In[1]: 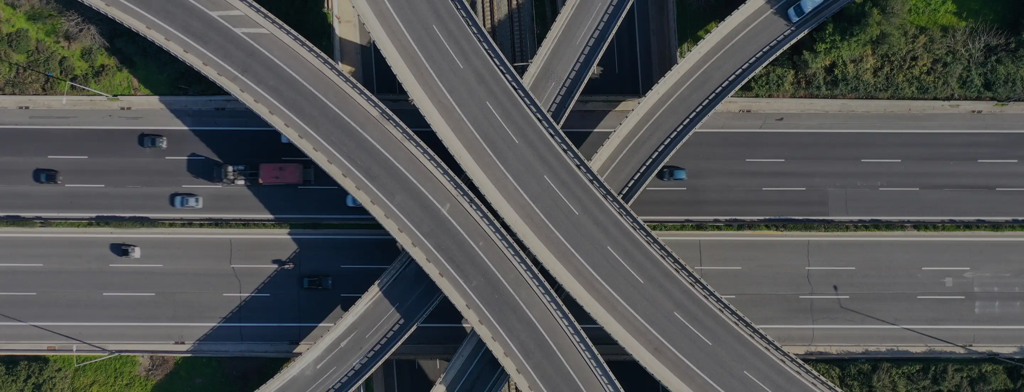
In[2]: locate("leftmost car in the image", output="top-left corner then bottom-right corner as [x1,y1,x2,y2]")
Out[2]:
[39,170,66,184]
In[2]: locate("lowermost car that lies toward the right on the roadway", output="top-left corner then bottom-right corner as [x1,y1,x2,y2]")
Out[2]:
[660,167,688,182]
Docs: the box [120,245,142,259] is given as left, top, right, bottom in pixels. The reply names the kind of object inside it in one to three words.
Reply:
car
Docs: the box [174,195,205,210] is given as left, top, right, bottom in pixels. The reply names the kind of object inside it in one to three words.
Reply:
car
